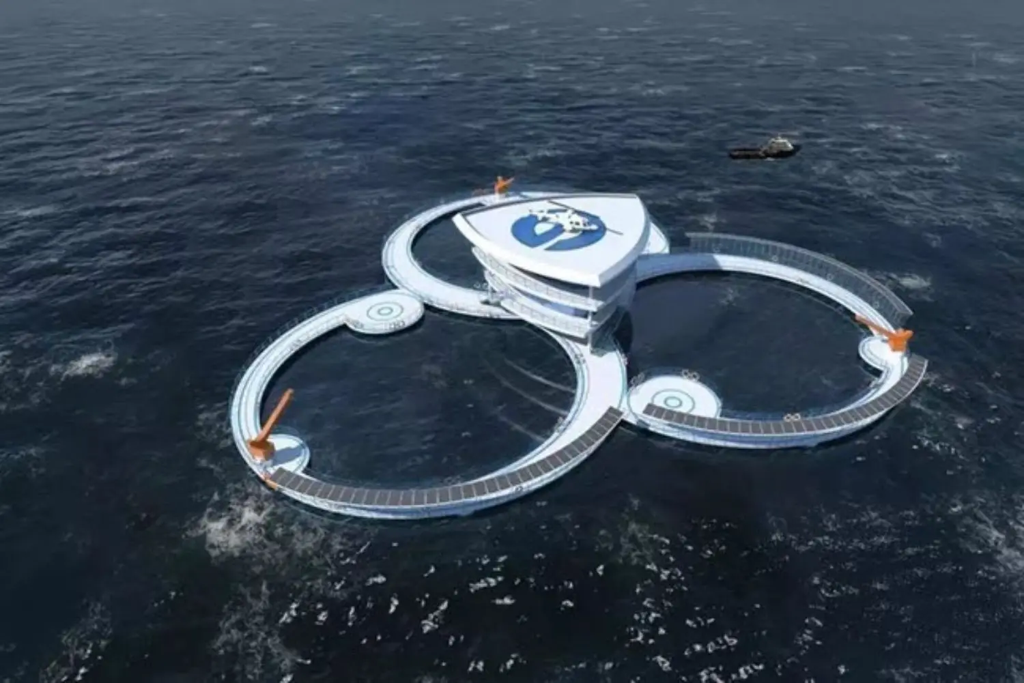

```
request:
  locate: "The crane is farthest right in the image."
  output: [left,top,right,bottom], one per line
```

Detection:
[851,313,919,355]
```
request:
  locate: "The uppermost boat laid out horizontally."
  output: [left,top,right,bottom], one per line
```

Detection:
[727,130,806,160]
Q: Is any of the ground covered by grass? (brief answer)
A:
No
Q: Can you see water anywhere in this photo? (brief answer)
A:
Yes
